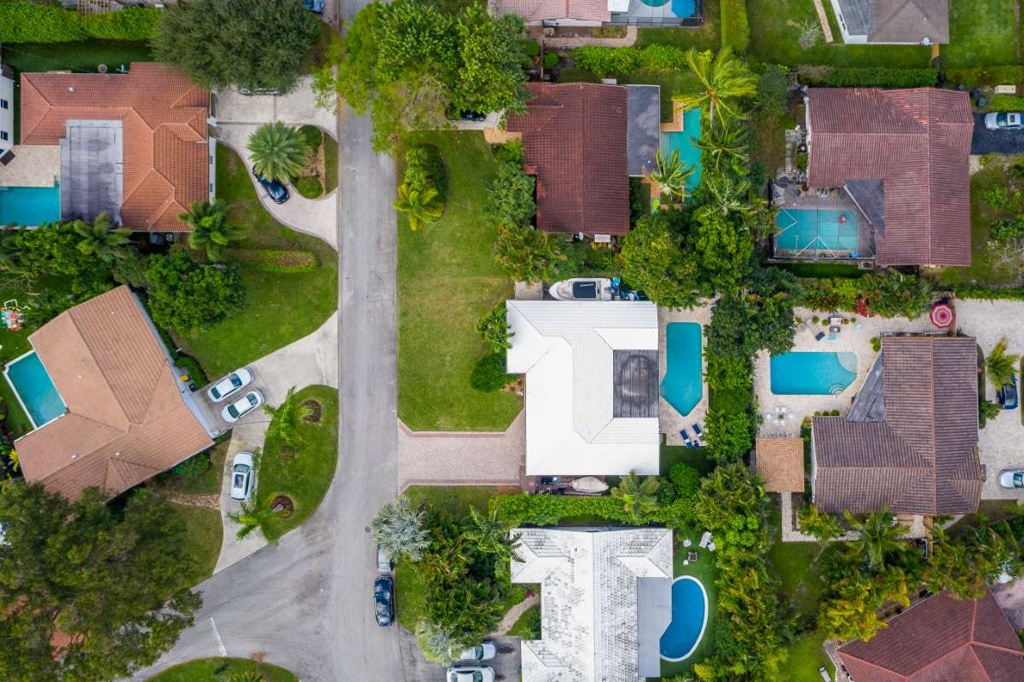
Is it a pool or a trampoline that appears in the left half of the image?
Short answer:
pool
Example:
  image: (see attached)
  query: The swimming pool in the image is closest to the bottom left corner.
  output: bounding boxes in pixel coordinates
[3,350,66,428]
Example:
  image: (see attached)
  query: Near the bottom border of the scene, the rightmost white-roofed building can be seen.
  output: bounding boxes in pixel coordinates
[509,526,673,682]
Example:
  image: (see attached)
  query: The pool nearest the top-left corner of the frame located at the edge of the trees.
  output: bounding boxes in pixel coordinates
[0,179,59,227]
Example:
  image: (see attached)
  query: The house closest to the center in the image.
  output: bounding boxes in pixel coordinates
[505,299,660,477]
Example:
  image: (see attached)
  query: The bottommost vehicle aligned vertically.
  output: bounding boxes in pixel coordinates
[372,575,395,627]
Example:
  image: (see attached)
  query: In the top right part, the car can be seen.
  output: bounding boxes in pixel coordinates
[981,109,1024,133]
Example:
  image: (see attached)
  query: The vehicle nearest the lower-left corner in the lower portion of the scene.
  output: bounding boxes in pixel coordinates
[229,451,255,500]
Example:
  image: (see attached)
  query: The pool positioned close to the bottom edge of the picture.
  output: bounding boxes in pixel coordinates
[660,574,710,663]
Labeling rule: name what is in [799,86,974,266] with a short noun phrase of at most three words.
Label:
house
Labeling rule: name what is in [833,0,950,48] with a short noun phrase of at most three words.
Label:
house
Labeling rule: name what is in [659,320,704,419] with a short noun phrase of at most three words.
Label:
swimming pool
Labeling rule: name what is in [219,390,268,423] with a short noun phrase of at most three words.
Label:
car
